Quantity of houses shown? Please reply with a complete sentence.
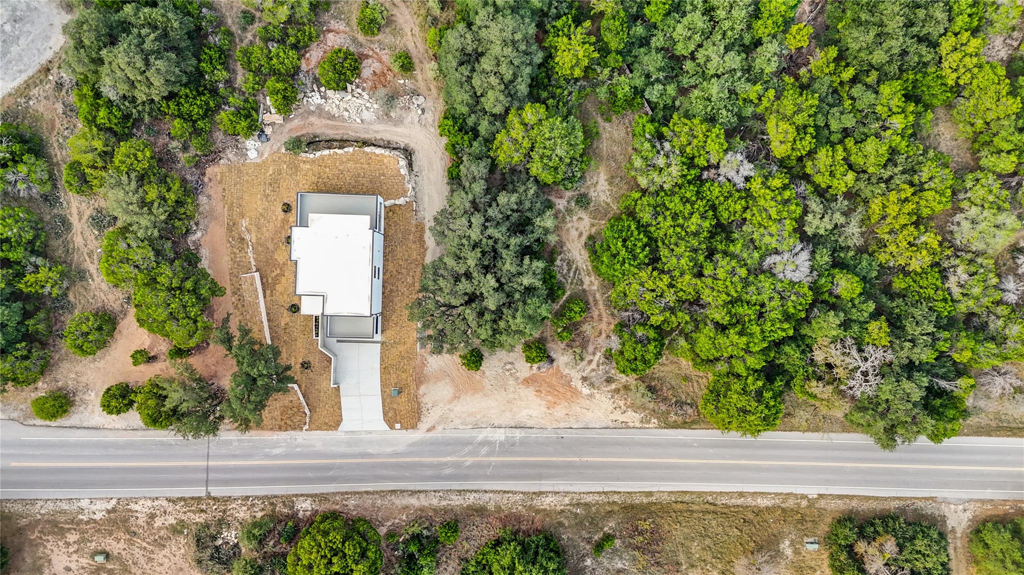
There is 1 house in the image.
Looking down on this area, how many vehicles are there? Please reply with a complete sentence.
The photo contains no vehicles.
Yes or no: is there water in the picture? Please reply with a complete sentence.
No, water can't be seen anywhere here.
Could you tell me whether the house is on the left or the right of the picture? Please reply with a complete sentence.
The house is on the left side of the image.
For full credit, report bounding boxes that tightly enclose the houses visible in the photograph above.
[288,192,384,339]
